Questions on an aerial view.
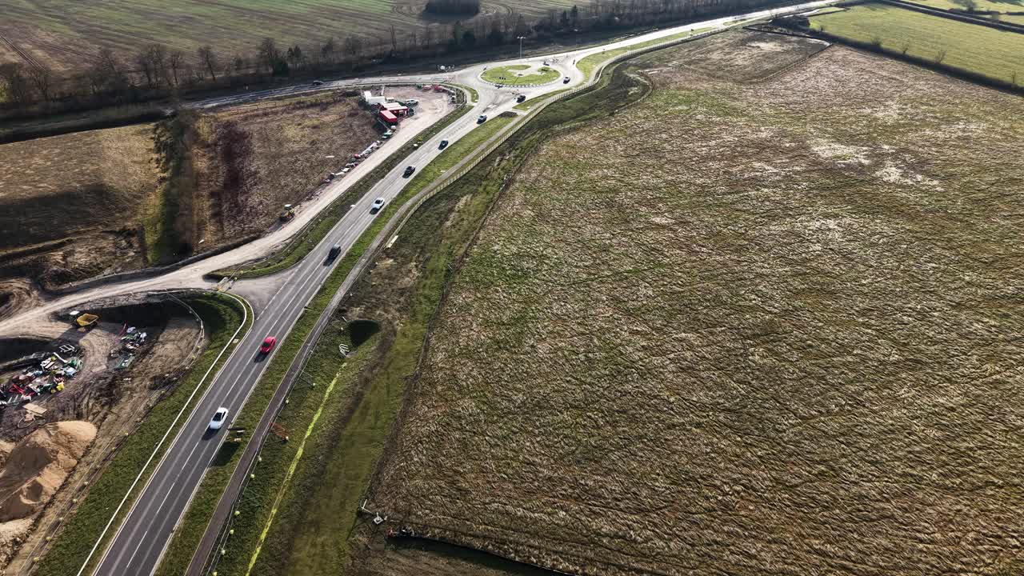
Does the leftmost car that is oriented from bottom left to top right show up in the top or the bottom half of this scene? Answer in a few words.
bottom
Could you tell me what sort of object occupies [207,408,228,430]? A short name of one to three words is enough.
car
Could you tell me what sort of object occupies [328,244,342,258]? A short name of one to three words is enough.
car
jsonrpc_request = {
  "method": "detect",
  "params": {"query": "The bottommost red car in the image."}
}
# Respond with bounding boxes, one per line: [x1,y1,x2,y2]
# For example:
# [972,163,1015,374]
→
[259,337,275,353]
